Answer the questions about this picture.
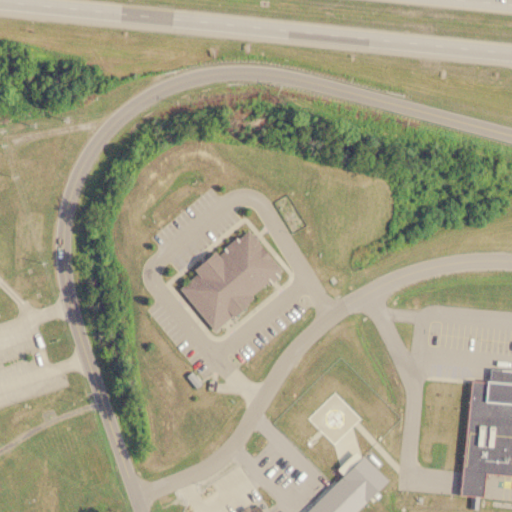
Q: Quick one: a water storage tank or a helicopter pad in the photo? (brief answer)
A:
helicopter pad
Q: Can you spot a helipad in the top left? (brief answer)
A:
No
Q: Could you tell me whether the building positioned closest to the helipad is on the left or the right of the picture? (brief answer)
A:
right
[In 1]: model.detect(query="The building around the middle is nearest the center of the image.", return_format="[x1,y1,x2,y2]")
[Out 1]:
[180,232,283,328]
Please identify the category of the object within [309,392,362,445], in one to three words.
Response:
helipad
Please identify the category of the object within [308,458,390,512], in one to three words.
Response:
building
